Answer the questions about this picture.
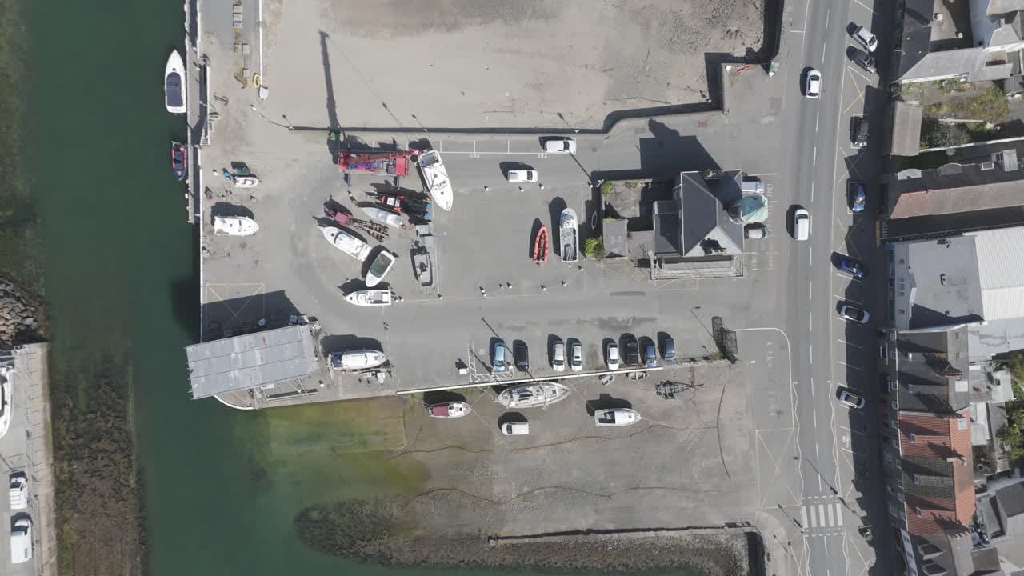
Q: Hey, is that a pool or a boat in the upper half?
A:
boat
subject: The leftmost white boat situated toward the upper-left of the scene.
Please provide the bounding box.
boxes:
[164,49,189,117]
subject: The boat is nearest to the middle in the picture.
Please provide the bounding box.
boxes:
[532,225,548,267]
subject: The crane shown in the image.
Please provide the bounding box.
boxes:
[339,144,449,191]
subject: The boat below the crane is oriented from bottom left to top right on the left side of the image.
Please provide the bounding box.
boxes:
[366,248,397,288]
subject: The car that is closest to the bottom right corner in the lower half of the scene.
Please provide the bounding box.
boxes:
[834,387,864,406]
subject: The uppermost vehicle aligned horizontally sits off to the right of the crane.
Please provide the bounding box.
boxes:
[543,140,574,153]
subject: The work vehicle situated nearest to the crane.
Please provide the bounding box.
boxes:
[368,189,401,211]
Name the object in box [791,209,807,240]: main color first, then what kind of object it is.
white vehicle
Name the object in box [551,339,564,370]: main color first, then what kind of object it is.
white vehicle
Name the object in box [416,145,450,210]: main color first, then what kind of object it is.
white boat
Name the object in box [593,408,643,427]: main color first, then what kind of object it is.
white boat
